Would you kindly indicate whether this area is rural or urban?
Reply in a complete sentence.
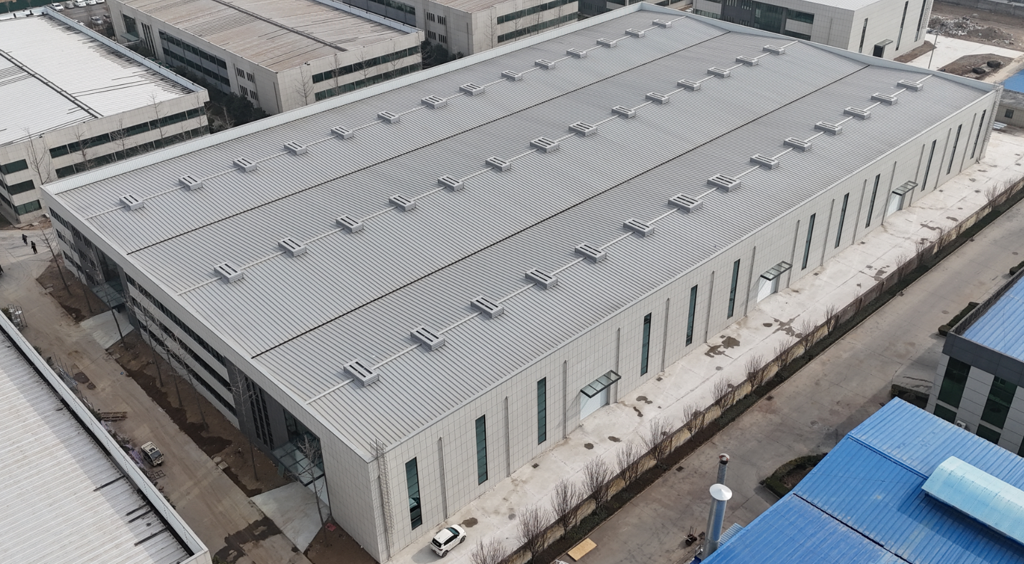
The land in this view is best described as urban.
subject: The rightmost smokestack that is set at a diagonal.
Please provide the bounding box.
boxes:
[618,446,801,558]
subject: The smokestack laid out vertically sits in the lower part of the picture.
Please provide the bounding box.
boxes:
[705,485,732,556]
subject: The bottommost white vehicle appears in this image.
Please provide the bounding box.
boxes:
[429,525,467,557]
